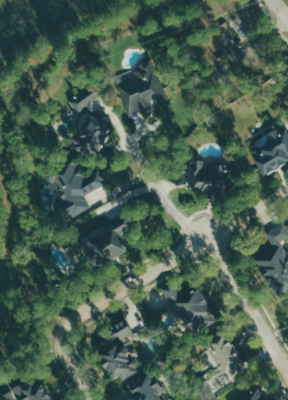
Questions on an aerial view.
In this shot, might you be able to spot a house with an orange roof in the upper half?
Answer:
No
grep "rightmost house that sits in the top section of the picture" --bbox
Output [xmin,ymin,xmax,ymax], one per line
[254,126,288,177]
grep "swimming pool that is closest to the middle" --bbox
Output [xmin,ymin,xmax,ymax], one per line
[198,144,224,160]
